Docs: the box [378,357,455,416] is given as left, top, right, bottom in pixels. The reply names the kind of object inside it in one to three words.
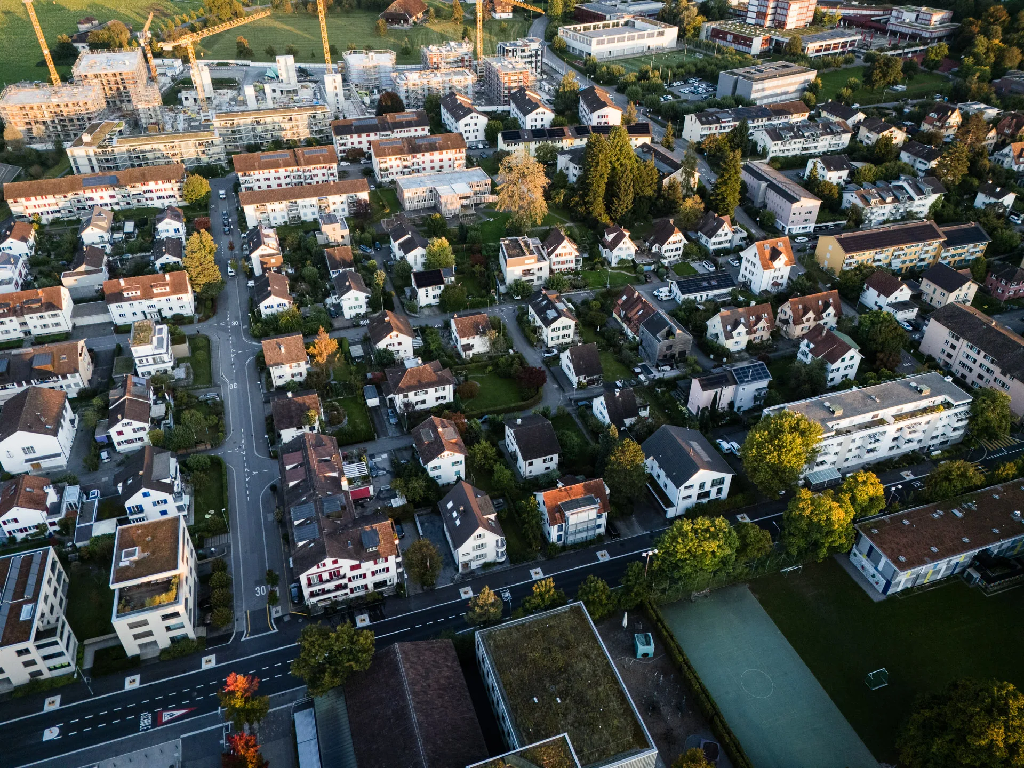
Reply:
house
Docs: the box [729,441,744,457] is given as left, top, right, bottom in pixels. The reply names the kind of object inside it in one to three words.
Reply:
car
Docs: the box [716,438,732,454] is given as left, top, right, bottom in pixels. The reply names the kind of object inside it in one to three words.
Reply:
vehicle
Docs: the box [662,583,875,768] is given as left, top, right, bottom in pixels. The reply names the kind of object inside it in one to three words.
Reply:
sports court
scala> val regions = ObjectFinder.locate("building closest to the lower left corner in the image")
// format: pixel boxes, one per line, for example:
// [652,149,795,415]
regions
[0,546,85,695]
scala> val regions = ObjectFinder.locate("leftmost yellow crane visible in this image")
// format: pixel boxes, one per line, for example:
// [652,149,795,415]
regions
[27,0,61,85]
